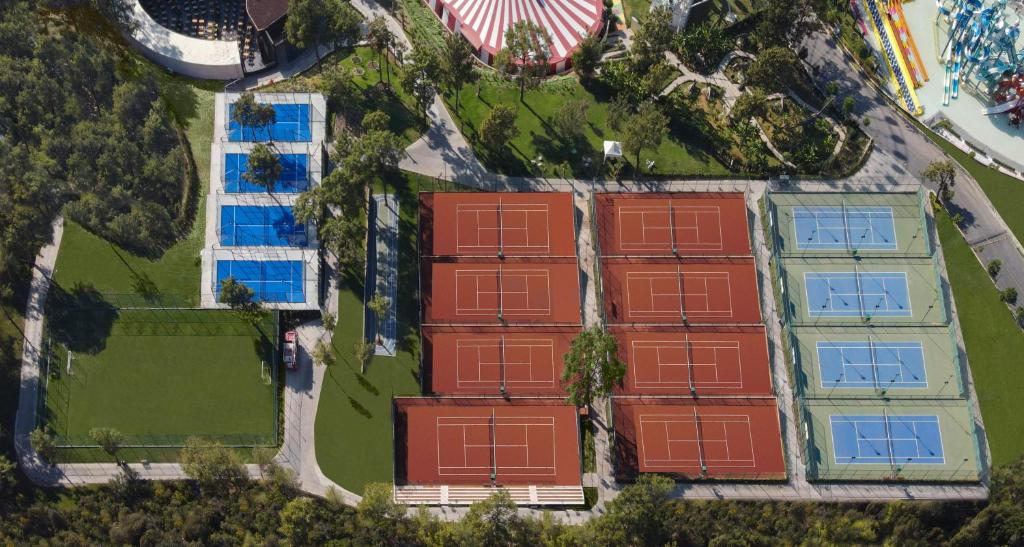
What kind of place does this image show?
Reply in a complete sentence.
The picture captures a sports ground.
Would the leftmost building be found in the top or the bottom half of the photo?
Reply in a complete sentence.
The leftmost building sits in the top half of the picture.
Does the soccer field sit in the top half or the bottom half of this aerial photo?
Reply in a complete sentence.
The bottom half of the photo is where the soccer field is.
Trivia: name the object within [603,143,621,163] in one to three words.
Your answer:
gazebo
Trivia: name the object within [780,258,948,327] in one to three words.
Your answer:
tennis court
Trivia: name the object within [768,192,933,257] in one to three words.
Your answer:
tennis court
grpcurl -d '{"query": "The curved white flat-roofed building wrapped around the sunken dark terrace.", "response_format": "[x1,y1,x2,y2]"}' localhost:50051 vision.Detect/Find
[124,0,244,77]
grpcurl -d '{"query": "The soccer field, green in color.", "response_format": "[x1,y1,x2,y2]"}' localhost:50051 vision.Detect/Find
[48,310,276,446]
